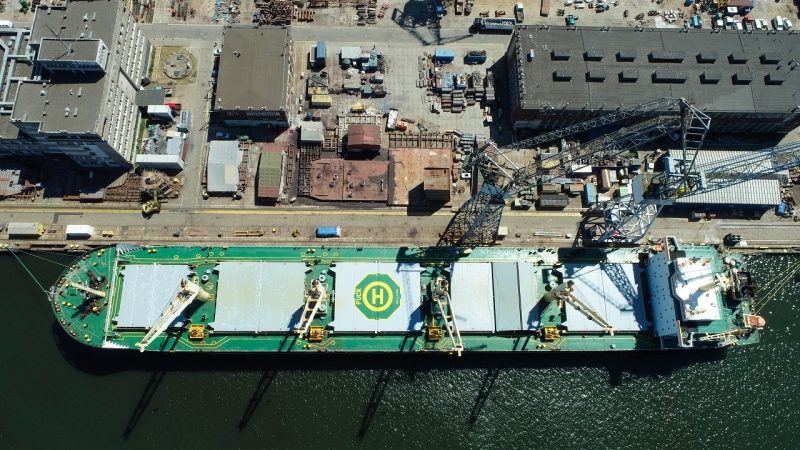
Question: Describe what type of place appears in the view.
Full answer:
The area seen from above is a port.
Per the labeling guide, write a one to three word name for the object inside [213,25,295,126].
building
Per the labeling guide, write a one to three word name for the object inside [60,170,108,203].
shed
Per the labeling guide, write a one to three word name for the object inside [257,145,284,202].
shed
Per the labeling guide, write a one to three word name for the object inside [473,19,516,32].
vehicle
